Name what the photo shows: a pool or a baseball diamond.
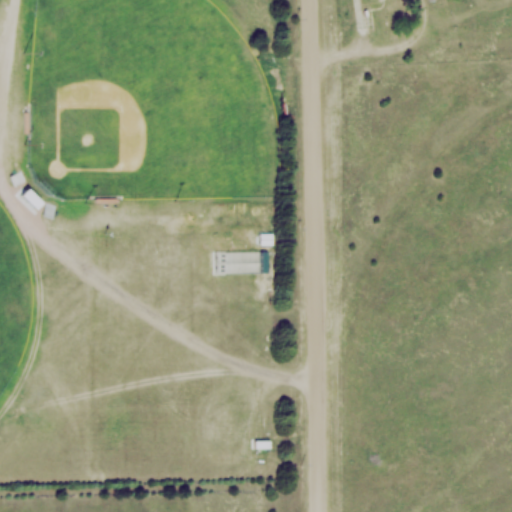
baseball diamond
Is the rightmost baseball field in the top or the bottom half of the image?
top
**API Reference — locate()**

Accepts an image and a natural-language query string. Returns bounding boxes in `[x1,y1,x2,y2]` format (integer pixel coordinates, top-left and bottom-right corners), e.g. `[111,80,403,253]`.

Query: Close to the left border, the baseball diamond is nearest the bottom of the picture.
[0,193,36,404]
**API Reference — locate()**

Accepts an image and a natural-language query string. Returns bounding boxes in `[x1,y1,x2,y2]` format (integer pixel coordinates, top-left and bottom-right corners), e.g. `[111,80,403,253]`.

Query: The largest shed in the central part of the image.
[216,252,268,274]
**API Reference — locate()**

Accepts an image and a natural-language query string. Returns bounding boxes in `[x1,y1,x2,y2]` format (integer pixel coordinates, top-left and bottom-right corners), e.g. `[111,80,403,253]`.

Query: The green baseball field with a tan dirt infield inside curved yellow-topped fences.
[27,0,283,201]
